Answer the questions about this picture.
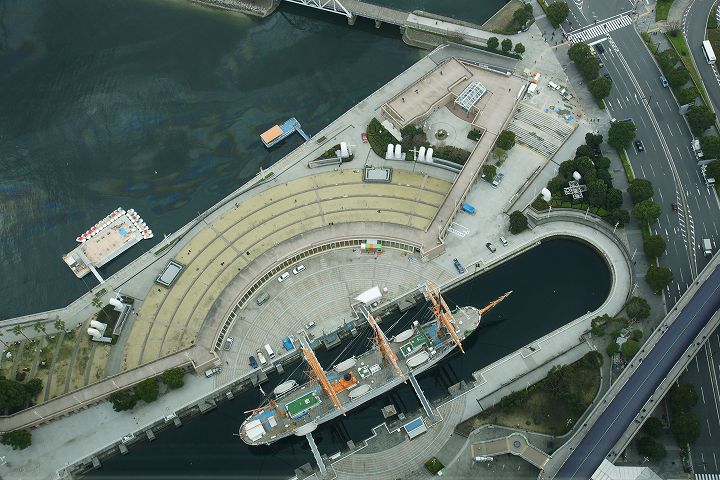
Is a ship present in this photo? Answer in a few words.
Yes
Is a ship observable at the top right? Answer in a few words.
No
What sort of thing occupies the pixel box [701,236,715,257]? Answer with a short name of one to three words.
vehicle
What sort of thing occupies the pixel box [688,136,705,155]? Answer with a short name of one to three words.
vehicle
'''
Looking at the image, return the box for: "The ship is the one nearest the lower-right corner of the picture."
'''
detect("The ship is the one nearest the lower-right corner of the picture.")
[233,282,510,444]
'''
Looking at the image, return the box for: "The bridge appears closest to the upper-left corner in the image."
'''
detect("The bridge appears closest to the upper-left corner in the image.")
[298,0,410,37]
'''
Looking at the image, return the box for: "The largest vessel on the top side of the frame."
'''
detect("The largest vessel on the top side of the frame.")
[260,118,311,148]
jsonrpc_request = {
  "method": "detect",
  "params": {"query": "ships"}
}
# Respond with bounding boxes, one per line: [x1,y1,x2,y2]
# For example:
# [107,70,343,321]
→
[233,282,510,444]
[260,118,311,148]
